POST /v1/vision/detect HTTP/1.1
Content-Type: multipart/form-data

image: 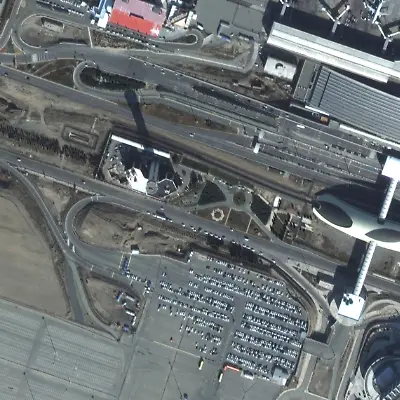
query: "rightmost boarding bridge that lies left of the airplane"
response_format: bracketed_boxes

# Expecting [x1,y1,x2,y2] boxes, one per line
[322,4,350,33]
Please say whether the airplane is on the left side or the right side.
right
